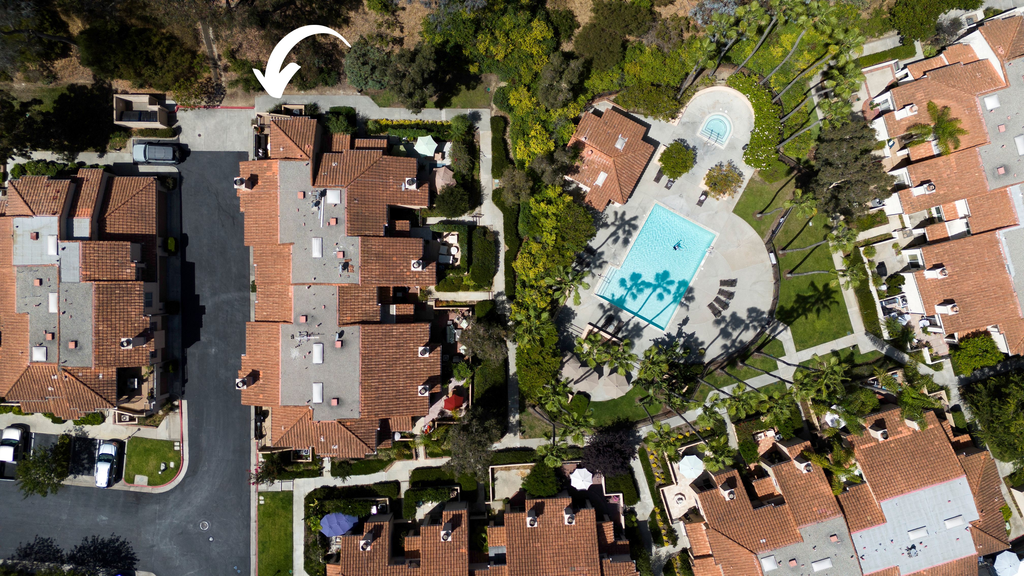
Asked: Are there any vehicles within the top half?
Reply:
Yes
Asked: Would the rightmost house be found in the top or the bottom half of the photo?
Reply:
top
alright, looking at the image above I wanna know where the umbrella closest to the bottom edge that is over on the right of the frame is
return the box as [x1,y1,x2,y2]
[992,551,1020,576]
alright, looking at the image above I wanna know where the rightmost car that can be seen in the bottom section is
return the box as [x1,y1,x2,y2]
[92,443,118,489]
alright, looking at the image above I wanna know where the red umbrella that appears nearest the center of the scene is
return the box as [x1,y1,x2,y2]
[447,392,462,410]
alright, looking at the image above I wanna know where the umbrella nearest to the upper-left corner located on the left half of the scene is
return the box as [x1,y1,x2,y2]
[392,144,408,157]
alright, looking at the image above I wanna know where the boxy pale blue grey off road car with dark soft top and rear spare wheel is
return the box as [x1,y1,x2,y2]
[131,141,174,163]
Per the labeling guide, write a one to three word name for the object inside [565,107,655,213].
building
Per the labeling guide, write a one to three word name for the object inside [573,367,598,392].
umbrella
